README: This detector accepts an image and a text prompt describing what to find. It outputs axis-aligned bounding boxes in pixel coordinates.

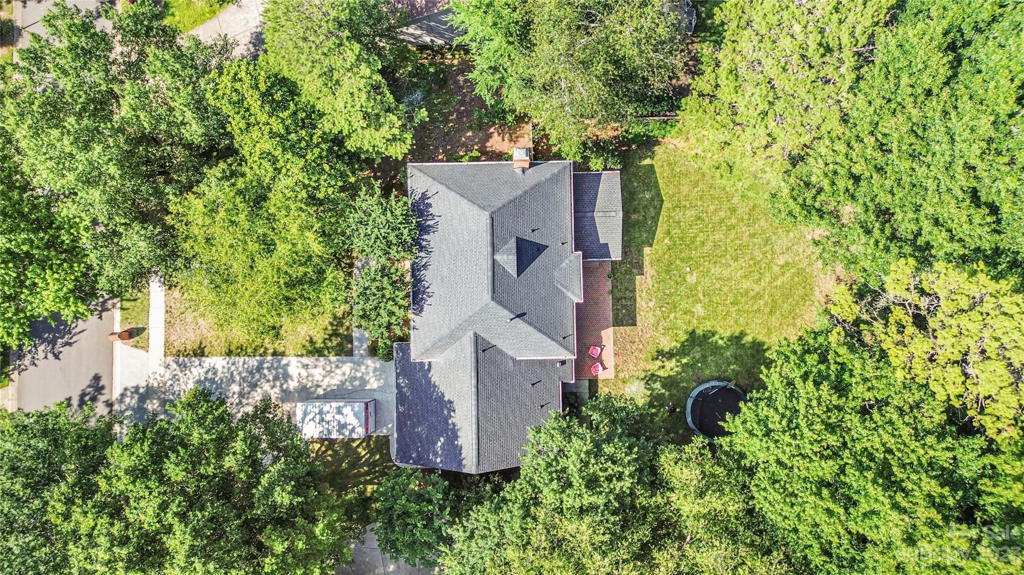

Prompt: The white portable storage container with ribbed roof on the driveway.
[297,398,377,438]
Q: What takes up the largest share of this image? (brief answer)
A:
trees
